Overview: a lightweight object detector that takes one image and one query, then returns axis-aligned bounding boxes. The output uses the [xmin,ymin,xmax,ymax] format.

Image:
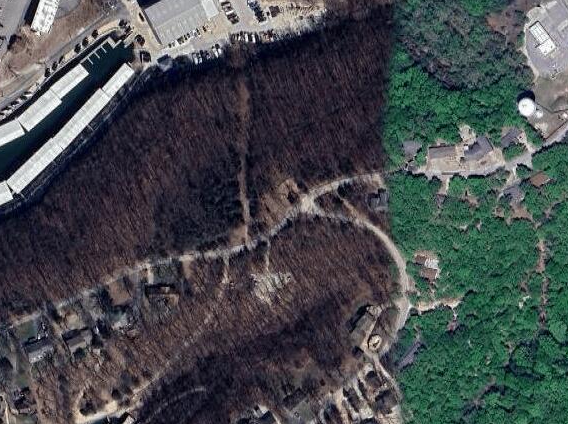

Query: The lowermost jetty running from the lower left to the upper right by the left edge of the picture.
[7,137,63,199]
